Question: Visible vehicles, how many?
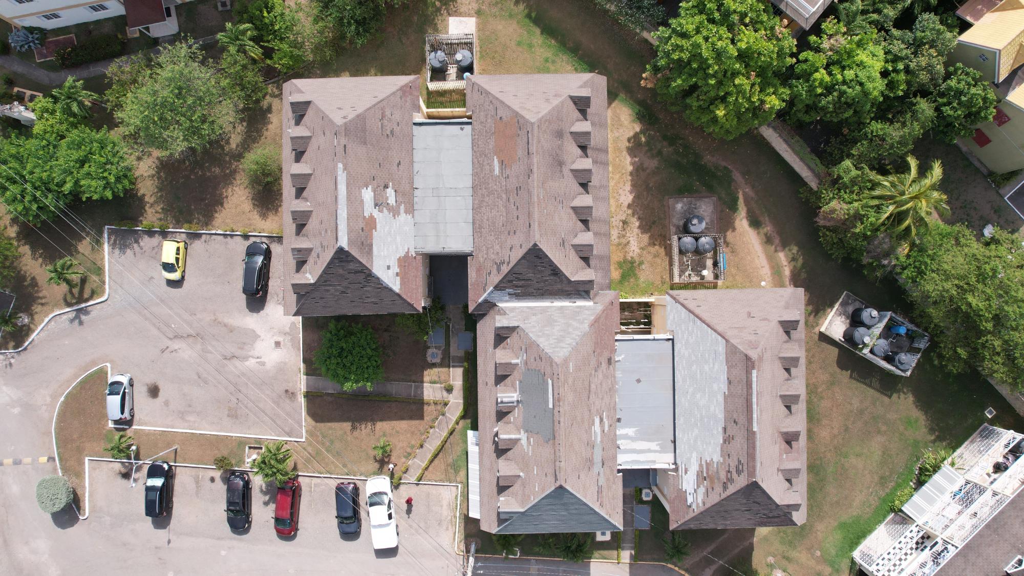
8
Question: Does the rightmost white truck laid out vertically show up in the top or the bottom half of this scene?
bottom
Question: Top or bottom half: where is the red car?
bottom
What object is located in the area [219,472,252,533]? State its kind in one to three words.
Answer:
car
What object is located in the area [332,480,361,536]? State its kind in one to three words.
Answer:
car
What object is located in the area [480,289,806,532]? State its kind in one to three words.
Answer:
building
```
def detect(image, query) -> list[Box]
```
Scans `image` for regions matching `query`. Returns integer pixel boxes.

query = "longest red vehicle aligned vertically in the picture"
[267,479,302,541]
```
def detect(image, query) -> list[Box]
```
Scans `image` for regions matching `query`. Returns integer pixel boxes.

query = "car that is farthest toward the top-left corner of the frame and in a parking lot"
[156,238,189,281]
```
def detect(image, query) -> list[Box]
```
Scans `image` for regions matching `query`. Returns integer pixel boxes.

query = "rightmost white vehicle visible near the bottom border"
[362,472,398,549]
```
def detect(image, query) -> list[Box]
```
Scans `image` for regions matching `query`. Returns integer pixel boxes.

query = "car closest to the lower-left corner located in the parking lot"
[137,460,173,520]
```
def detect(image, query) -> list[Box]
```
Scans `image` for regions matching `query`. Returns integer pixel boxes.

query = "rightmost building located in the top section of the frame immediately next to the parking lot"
[282,73,608,316]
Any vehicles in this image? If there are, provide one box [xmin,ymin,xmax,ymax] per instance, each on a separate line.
[156,238,189,281]
[238,241,271,298]
[137,460,173,520]
[99,373,133,423]
[219,472,252,533]
[267,479,302,541]
[332,480,361,536]
[362,472,398,549]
